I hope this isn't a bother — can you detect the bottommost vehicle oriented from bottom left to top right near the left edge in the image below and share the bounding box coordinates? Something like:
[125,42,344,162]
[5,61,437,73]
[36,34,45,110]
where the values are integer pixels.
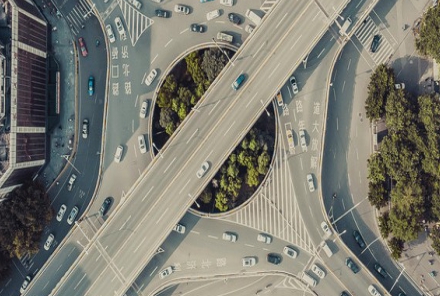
[17,276,31,293]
